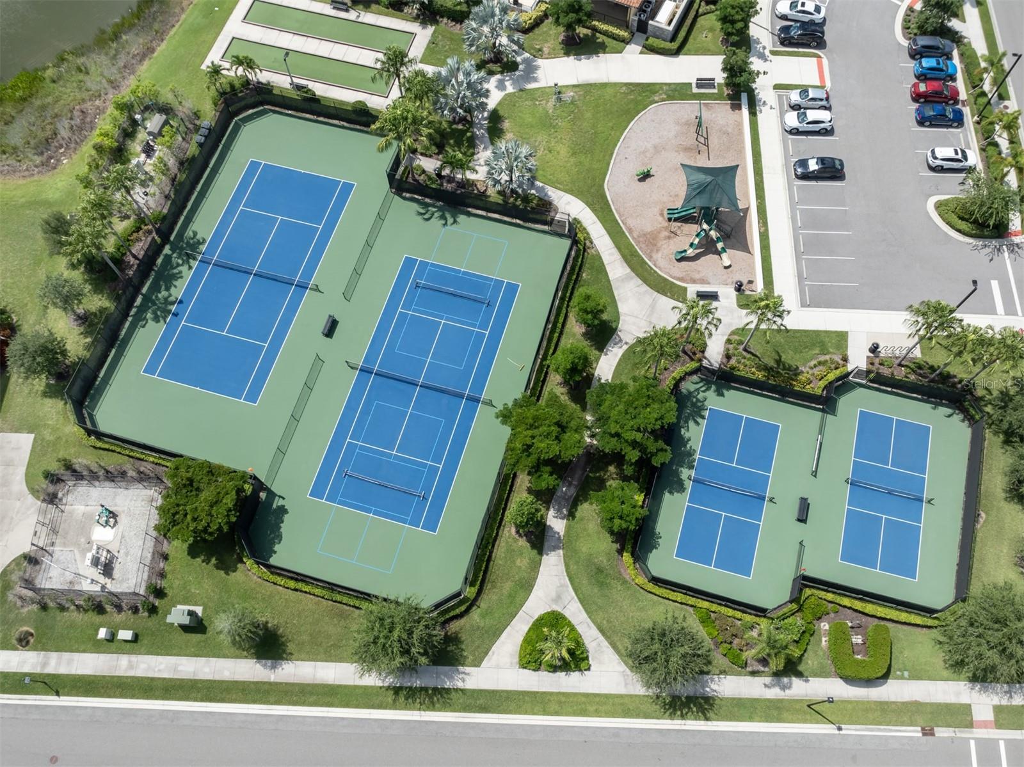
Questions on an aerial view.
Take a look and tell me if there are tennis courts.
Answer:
Yes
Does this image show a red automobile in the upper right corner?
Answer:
Yes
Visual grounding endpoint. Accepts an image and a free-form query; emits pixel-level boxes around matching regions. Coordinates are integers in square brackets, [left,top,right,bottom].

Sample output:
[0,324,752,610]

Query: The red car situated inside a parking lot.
[912,80,963,104]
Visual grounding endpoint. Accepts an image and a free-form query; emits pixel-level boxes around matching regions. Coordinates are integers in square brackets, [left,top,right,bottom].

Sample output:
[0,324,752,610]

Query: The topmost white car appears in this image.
[776,0,824,23]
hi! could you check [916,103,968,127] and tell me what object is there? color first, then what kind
blue car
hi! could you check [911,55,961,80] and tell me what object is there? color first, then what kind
blue car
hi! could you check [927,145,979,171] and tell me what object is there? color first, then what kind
white car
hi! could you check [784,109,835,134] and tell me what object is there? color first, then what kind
white car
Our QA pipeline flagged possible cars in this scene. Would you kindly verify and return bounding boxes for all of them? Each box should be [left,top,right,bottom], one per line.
[912,80,963,104]
[793,154,847,179]
[916,103,968,127]
[907,33,956,58]
[776,0,824,23]
[784,109,835,134]
[911,55,961,80]
[778,21,826,47]
[927,145,979,171]
[788,86,834,110]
